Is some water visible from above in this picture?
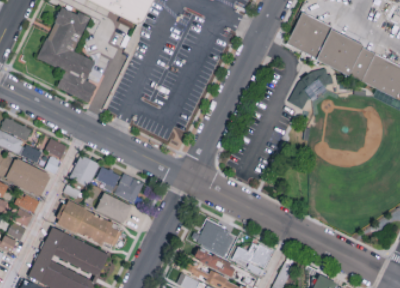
No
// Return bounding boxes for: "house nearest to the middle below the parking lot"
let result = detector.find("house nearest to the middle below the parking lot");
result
[116,173,145,203]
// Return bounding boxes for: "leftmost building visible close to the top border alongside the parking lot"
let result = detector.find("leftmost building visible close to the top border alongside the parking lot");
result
[39,6,98,104]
